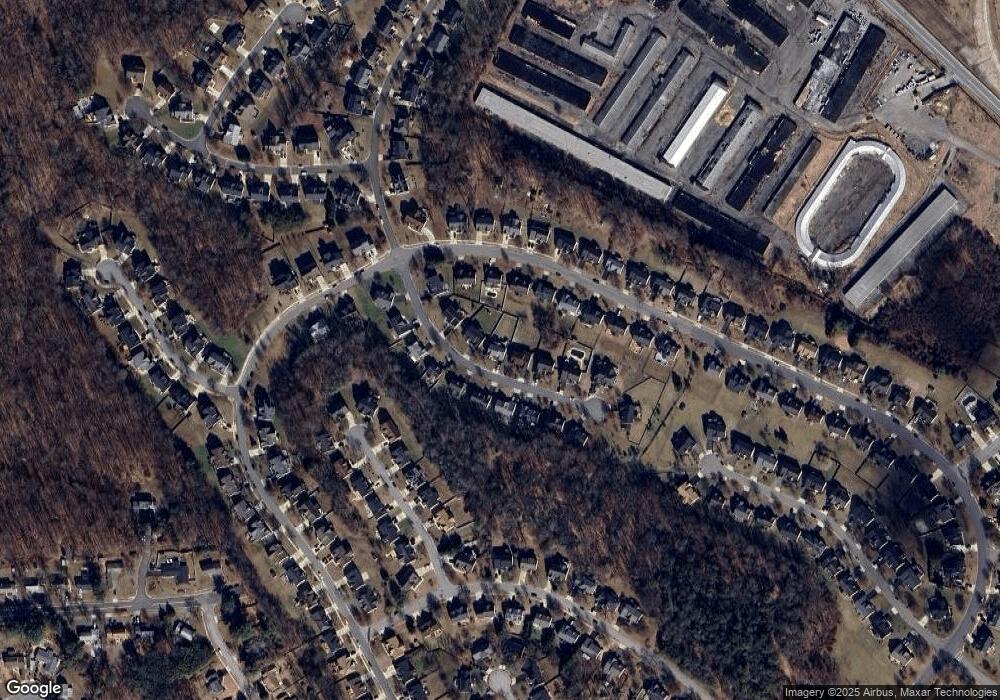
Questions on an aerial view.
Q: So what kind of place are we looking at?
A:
residential area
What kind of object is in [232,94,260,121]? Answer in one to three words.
house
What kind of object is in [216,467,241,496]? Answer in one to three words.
house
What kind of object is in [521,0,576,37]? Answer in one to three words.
barn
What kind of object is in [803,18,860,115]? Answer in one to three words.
barn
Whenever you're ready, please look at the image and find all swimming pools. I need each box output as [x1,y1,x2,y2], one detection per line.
[569,348,586,360]
[960,392,978,407]
[485,290,498,299]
